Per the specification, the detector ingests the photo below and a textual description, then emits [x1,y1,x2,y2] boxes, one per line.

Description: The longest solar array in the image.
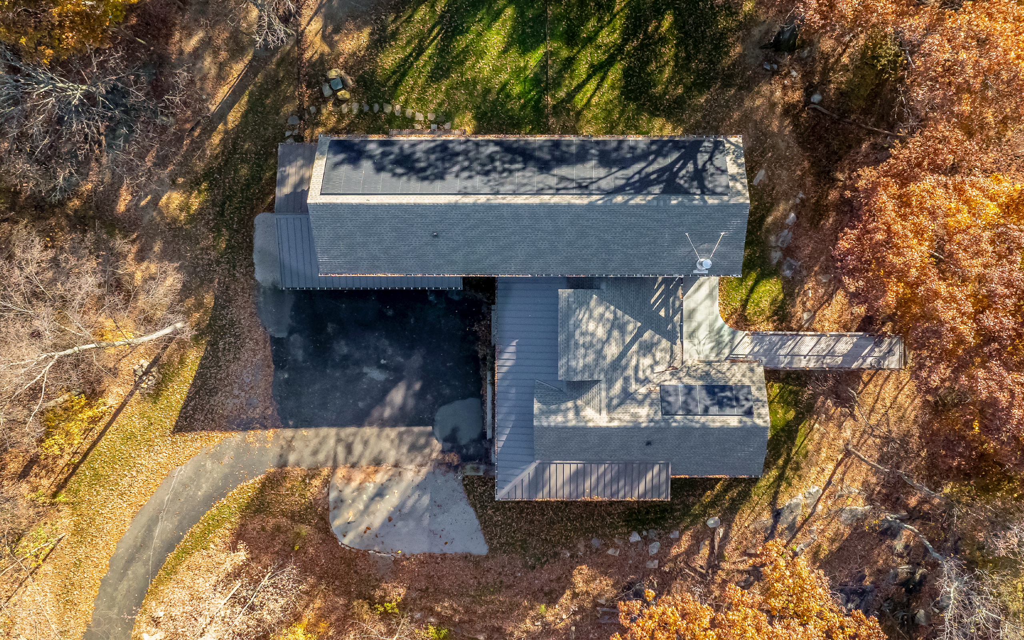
[321,139,731,195]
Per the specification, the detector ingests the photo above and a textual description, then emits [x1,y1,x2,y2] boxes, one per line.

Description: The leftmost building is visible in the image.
[274,129,771,502]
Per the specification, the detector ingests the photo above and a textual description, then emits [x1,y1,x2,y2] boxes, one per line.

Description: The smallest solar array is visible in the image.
[660,384,754,416]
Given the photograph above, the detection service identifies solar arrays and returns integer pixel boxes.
[660,384,754,416]
[321,139,731,195]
